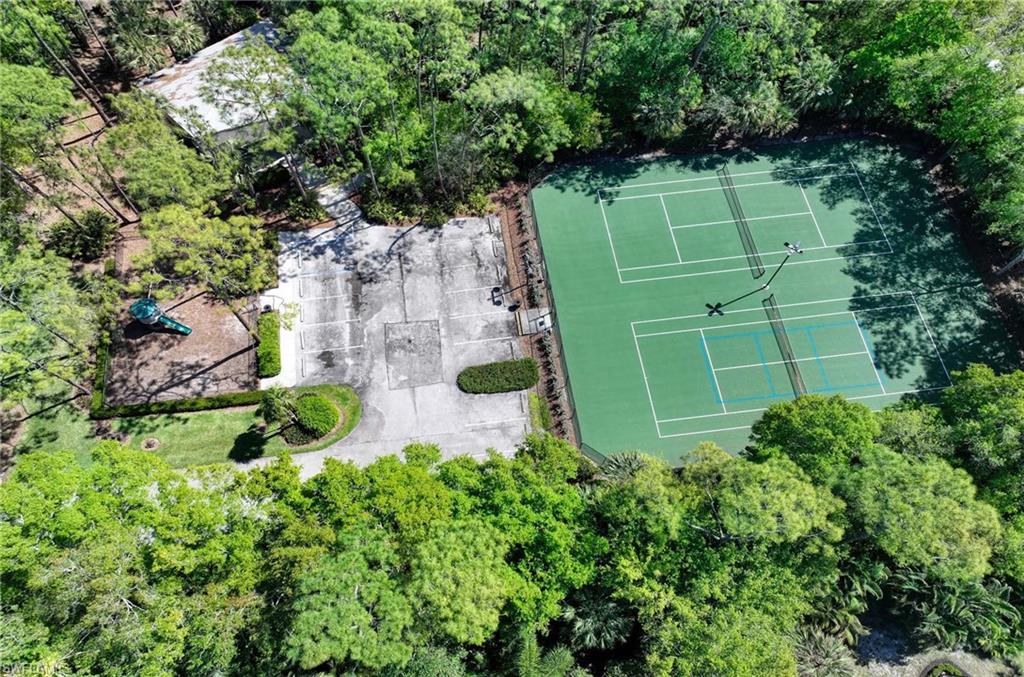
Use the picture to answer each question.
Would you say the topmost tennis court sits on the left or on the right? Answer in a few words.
right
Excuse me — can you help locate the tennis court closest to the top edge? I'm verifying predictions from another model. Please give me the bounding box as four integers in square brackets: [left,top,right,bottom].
[531,133,980,310]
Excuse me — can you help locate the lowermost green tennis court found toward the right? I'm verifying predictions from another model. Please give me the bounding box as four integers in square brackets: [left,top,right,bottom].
[554,262,1024,467]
